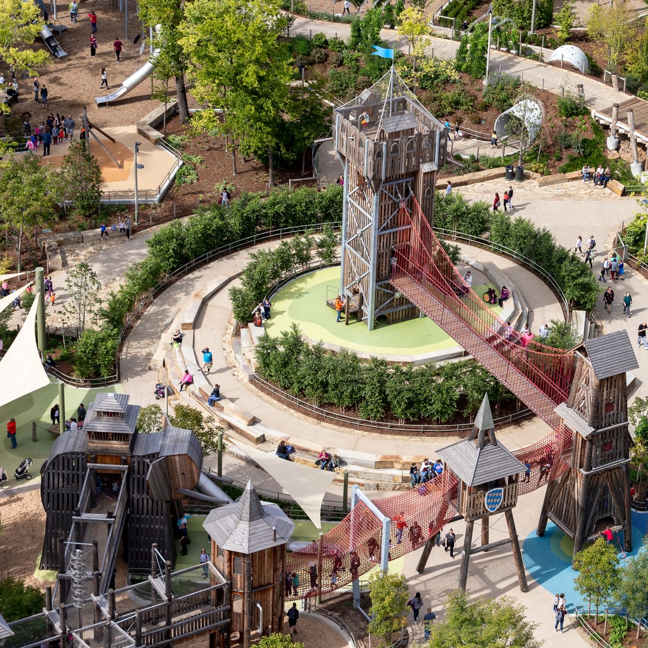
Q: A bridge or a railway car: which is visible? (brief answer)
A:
bridge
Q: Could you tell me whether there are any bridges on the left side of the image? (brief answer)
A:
No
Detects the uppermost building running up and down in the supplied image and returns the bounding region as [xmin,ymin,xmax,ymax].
[316,38,445,330]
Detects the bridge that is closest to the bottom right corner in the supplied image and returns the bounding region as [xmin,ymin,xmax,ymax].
[387,202,572,460]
